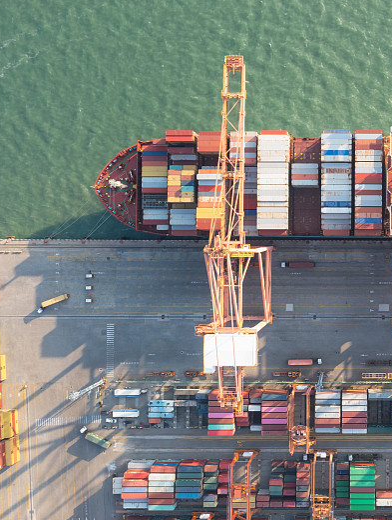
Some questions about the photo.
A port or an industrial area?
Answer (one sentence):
This image shows a port.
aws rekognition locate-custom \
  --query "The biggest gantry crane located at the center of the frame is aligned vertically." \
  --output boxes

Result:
[191,55,283,422]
